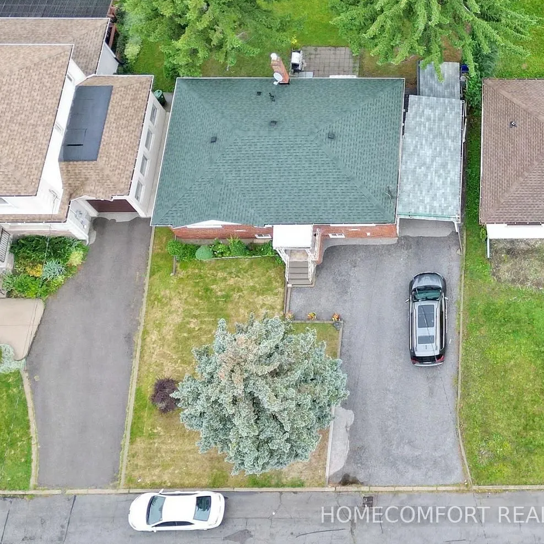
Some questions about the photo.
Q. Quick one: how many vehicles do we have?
2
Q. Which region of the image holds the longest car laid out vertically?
right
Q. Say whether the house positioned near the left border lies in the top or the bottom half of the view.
top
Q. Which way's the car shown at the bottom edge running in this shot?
from side to side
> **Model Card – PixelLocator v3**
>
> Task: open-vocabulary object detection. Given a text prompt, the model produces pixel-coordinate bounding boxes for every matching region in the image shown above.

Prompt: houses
[479,77,544,255]
[151,60,407,240]
[0,16,166,245]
